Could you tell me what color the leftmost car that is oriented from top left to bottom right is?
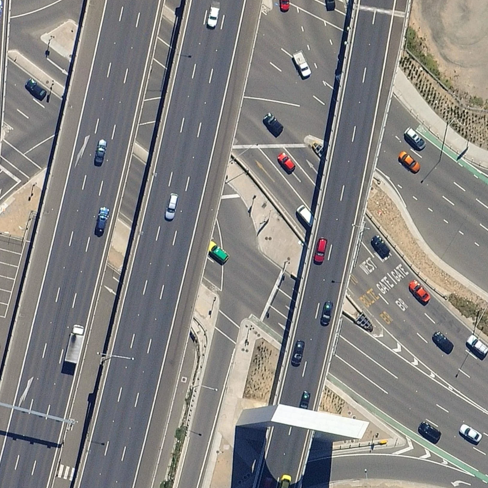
black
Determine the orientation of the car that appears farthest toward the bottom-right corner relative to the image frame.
on a diagonal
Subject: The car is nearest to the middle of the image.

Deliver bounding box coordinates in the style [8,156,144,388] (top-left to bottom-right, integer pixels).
[209,241,231,264]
